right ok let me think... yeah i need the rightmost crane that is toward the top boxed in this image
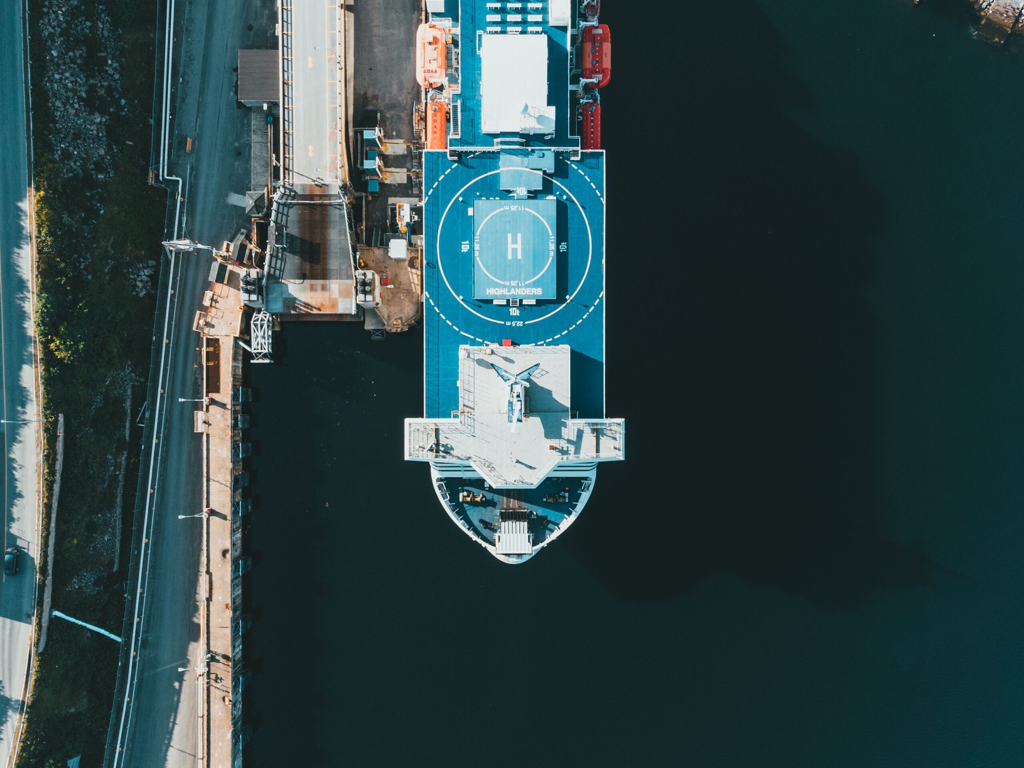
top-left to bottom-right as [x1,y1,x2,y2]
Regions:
[387,203,421,245]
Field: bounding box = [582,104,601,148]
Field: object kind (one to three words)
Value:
boat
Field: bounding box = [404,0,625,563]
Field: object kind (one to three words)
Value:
ship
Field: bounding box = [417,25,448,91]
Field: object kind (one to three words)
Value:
boat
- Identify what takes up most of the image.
water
